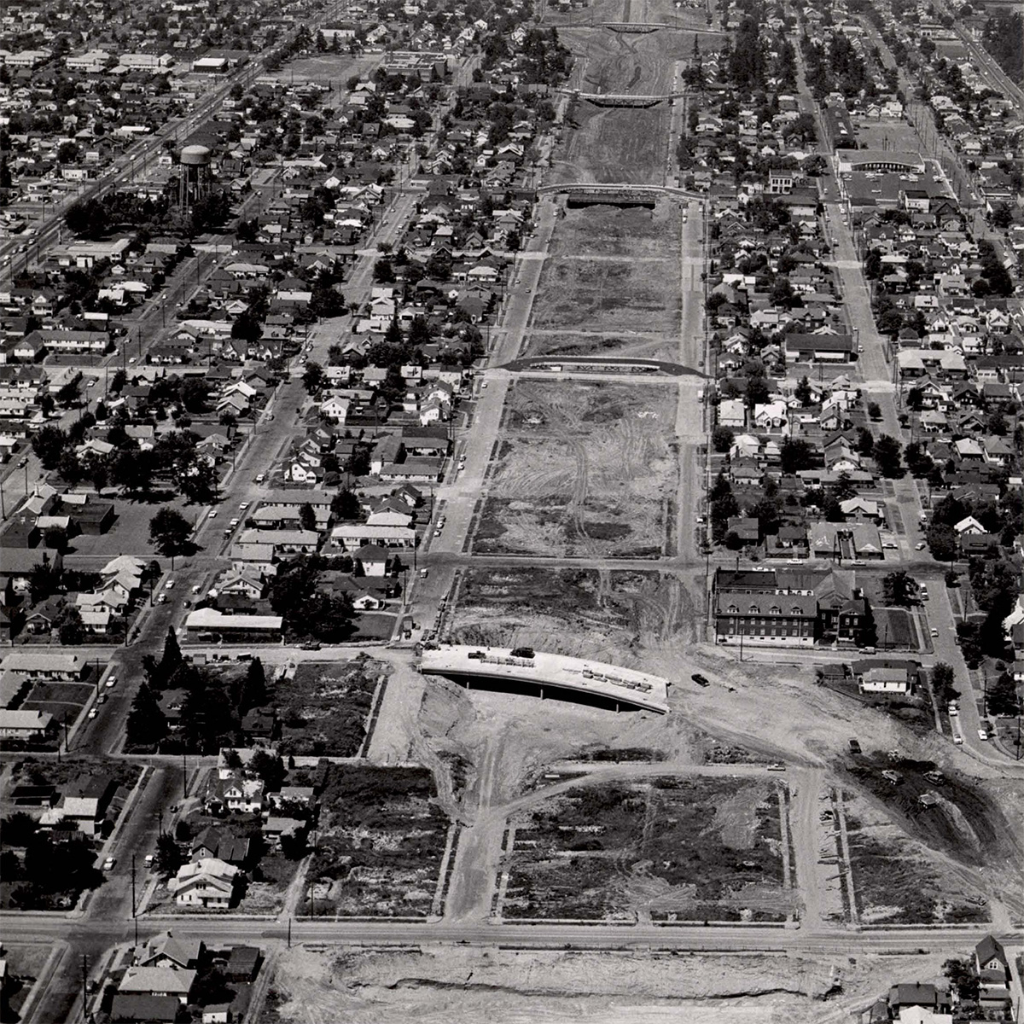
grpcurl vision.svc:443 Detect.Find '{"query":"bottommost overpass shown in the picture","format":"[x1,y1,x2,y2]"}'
[420,643,671,726]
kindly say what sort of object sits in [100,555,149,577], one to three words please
house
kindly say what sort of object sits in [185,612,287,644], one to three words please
building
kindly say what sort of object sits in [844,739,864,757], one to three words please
vehicle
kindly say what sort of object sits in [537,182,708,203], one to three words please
overpass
